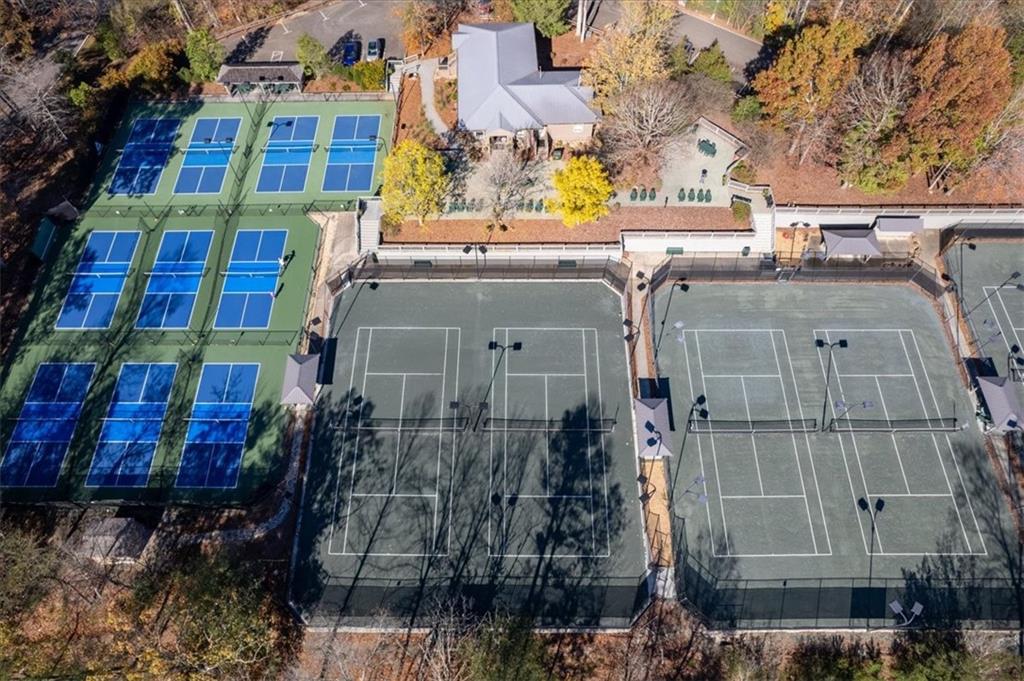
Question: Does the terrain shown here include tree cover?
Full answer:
Yes, the picture does contain tree cover.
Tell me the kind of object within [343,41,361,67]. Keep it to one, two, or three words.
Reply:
car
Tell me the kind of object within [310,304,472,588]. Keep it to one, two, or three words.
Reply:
tennis court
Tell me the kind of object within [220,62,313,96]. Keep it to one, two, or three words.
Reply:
building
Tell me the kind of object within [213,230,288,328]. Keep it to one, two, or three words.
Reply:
sports court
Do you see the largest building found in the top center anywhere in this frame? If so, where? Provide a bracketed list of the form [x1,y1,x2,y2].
[449,25,599,152]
